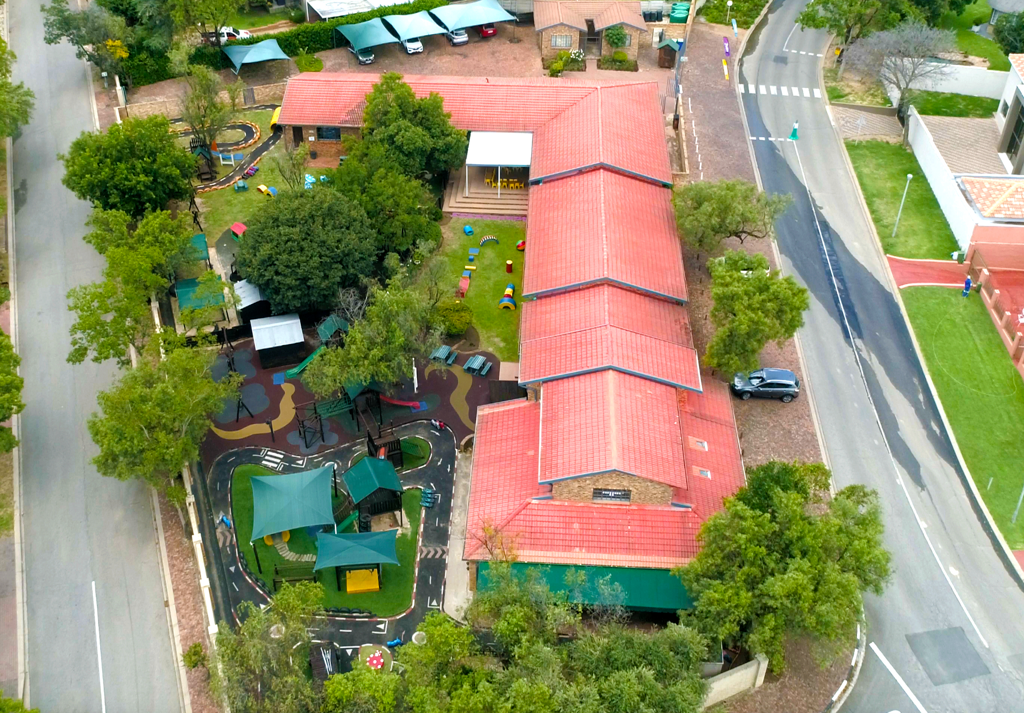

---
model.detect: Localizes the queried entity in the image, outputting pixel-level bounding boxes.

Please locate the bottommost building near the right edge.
[953,176,1024,259]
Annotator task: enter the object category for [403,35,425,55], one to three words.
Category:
car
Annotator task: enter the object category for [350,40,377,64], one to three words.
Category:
car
